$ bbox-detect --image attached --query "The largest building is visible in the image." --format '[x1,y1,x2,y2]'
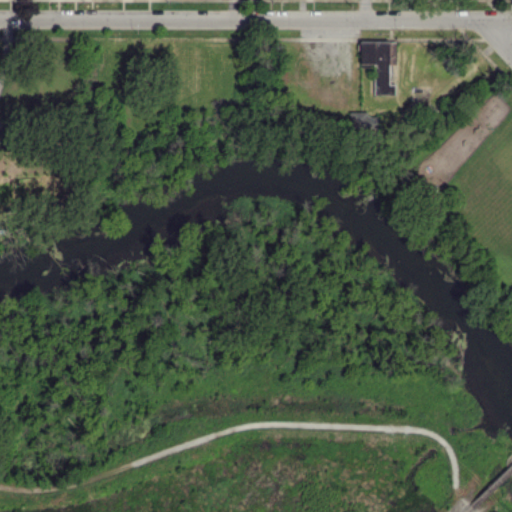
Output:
[360,42,398,95]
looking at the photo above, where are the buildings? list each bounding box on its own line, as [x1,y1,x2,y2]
[360,42,398,95]
[350,110,379,128]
